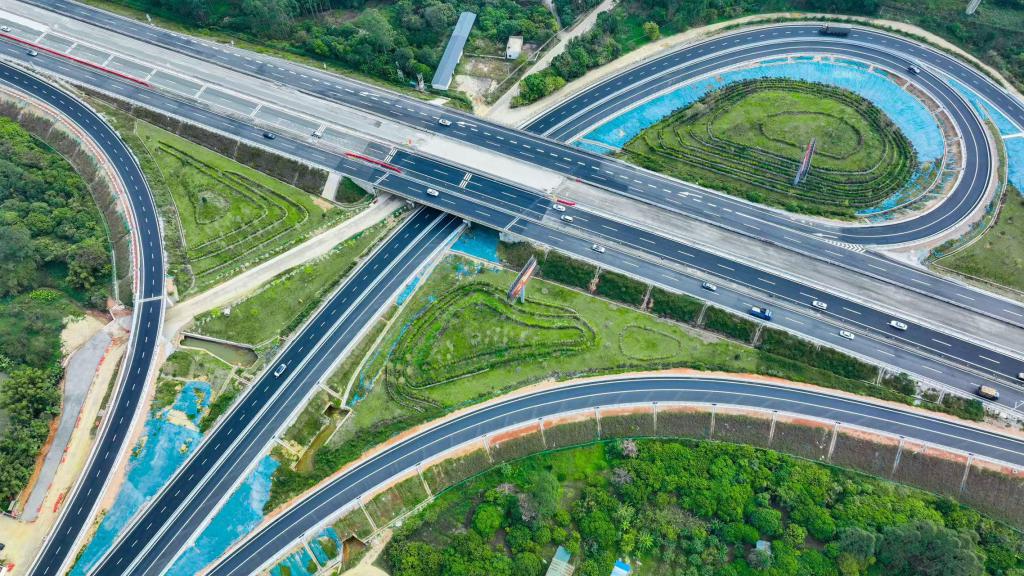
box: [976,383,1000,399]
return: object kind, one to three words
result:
vehicle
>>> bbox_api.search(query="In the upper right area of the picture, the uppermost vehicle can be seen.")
[817,25,852,37]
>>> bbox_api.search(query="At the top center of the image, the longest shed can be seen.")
[432,12,476,94]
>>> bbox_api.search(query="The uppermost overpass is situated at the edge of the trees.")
[355,94,633,265]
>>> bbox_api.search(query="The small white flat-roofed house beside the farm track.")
[507,35,523,58]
